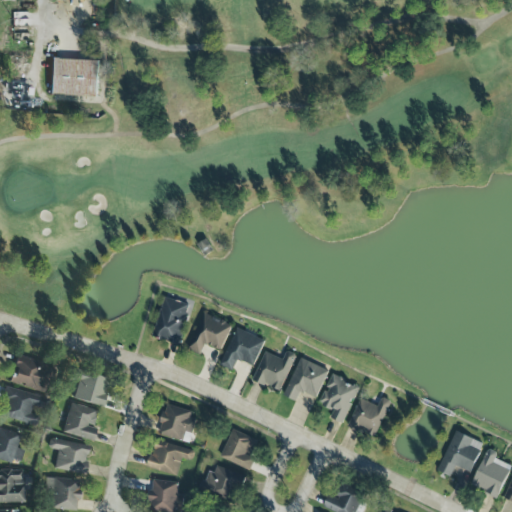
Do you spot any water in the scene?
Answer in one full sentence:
Yes, water can be seen from above here.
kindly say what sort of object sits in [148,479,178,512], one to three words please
house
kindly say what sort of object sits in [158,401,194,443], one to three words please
house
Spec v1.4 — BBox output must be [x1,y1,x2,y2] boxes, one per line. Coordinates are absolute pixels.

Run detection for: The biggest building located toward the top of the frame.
[46,57,99,96]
